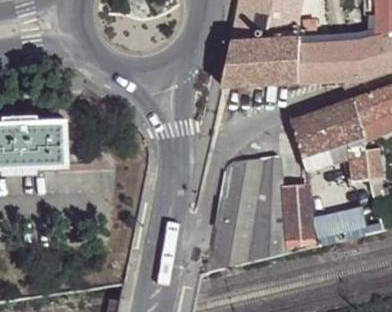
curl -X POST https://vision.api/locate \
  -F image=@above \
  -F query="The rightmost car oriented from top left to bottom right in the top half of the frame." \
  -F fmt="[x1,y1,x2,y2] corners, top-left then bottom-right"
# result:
[145,111,164,134]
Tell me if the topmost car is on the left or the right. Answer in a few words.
left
